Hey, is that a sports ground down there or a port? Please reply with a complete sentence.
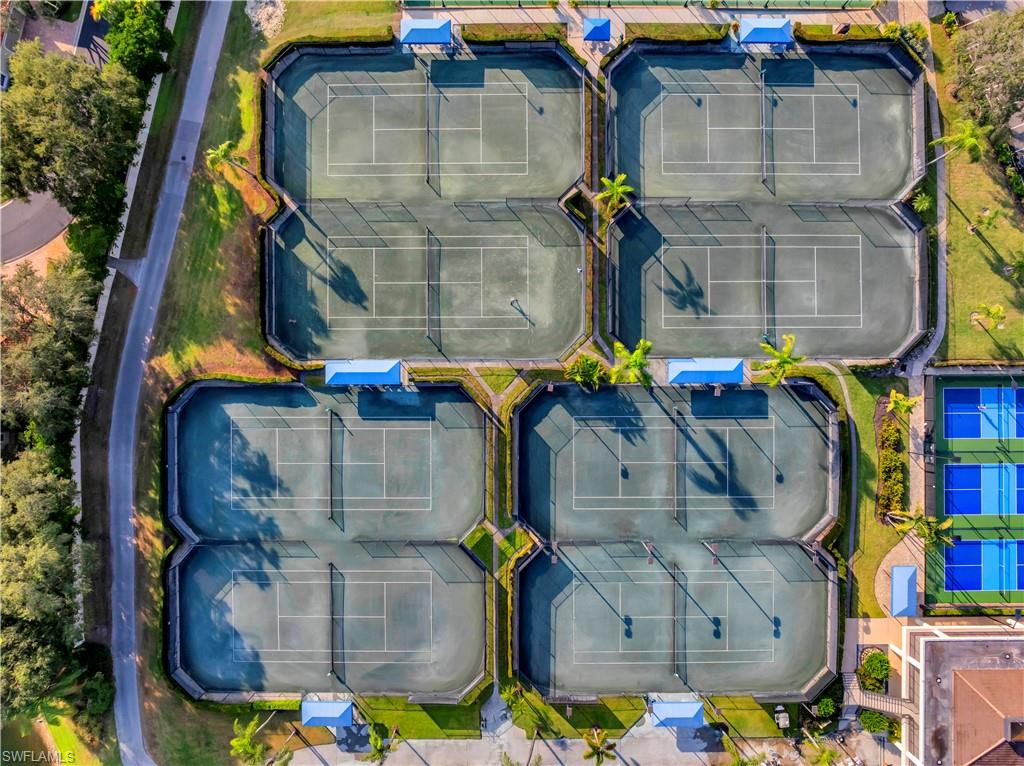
What you see here is a sports ground.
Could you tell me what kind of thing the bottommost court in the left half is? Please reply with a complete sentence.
I'd say the bottommost court in the left half is a tennis court.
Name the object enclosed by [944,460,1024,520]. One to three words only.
sports court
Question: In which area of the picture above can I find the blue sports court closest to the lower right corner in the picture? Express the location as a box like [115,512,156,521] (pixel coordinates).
[944,536,1024,596]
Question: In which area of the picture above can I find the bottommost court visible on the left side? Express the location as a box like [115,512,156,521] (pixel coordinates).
[177,542,483,693]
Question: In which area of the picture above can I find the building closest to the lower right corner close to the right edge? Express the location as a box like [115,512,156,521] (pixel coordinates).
[887,616,1024,766]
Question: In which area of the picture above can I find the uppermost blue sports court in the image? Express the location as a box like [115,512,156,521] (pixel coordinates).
[944,384,1024,443]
